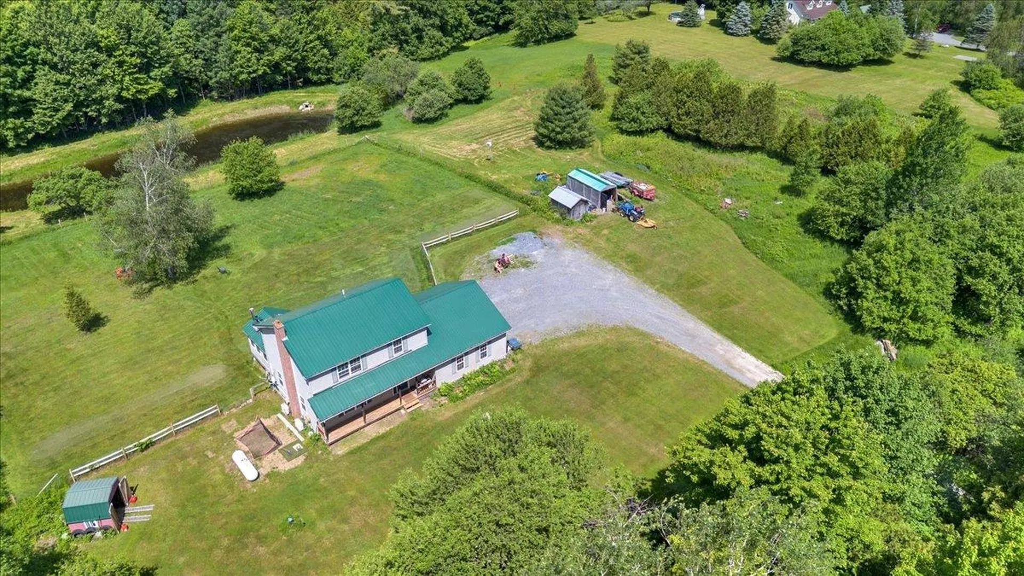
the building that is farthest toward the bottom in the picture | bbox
[241,278,511,445]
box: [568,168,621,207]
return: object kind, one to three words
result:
shed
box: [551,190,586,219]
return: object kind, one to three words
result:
shed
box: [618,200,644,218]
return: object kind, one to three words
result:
work vehicle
